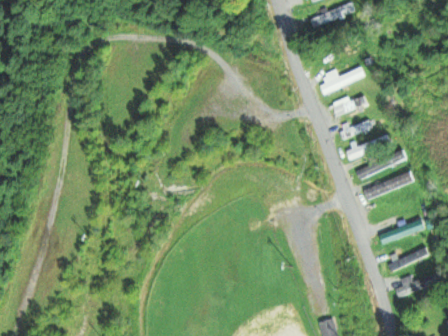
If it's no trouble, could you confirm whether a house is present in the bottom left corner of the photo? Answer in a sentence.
No, the scene shows no house in the bottom left corner of the photo.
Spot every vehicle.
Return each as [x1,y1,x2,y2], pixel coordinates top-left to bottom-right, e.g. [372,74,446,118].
[338,148,345,159]
[329,124,339,132]
[314,70,325,81]
[377,255,390,262]
[359,194,368,206]
[324,54,334,64]
[390,282,402,288]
